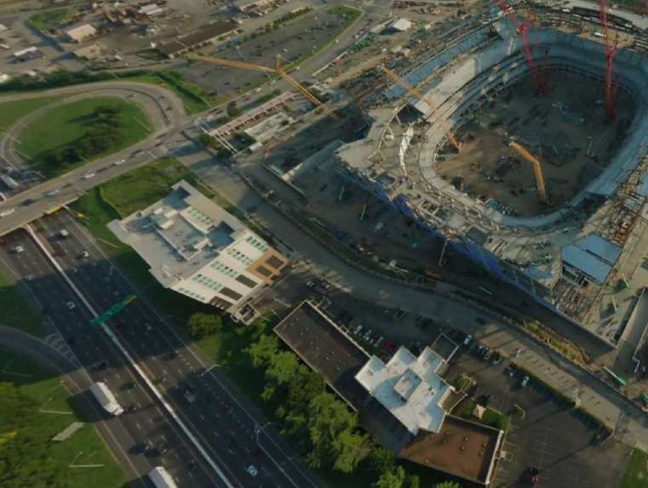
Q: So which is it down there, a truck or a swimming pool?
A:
truck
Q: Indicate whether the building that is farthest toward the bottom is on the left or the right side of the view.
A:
right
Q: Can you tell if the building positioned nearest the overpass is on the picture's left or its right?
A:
left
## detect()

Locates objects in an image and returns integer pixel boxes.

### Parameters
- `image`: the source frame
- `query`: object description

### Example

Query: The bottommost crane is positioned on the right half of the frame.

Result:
[509,142,550,207]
